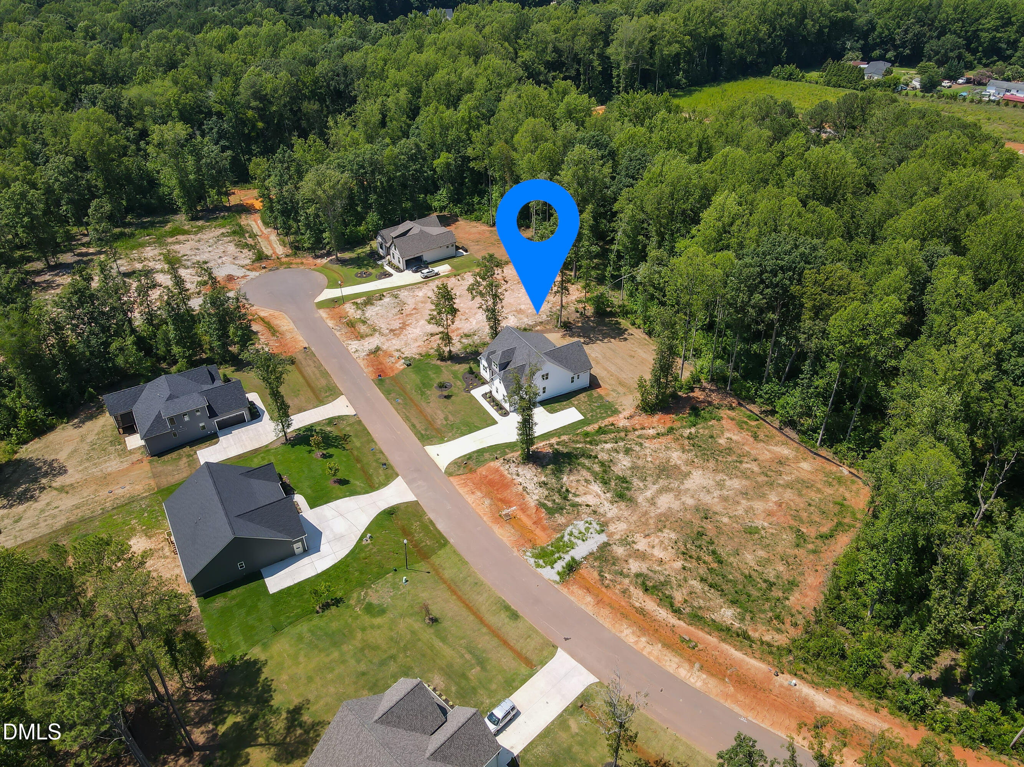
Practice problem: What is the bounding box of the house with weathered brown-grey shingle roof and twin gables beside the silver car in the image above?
[295,671,503,767]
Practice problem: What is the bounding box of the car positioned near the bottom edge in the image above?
[484,695,519,735]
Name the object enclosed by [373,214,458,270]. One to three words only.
house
